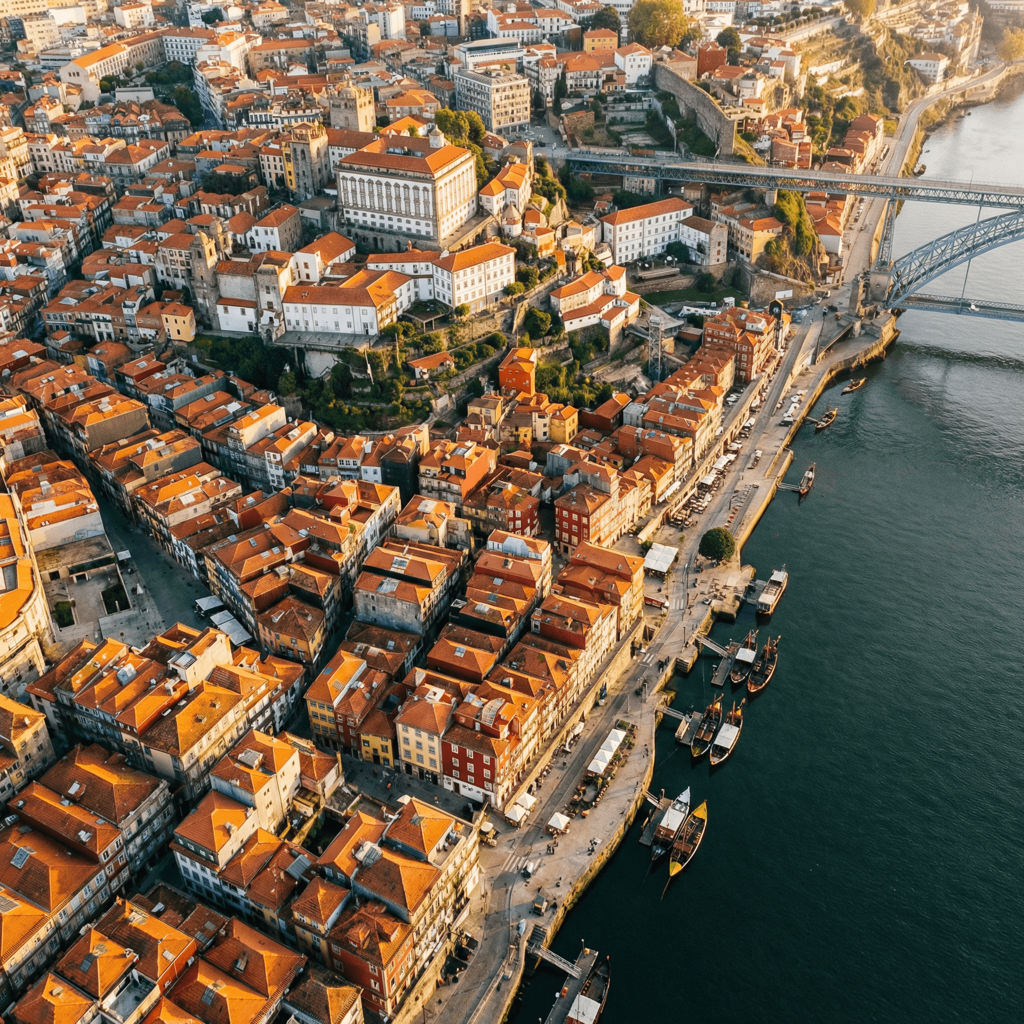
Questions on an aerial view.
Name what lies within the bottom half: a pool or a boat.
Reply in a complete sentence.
Looking within the bottom half, you will find a boat.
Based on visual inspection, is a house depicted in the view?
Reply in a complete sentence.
Yes, there's a house down there.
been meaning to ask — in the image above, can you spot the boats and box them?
[564,952,612,1024]
[728,620,761,704]
[798,459,818,497]
[687,688,726,781]
[703,692,747,790]
[644,782,692,889]
[756,563,789,616]
[662,796,709,905]
[747,633,783,707]
[814,406,838,431]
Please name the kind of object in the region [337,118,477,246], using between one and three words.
building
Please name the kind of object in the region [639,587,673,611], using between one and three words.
truck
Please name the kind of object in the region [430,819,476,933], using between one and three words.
house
